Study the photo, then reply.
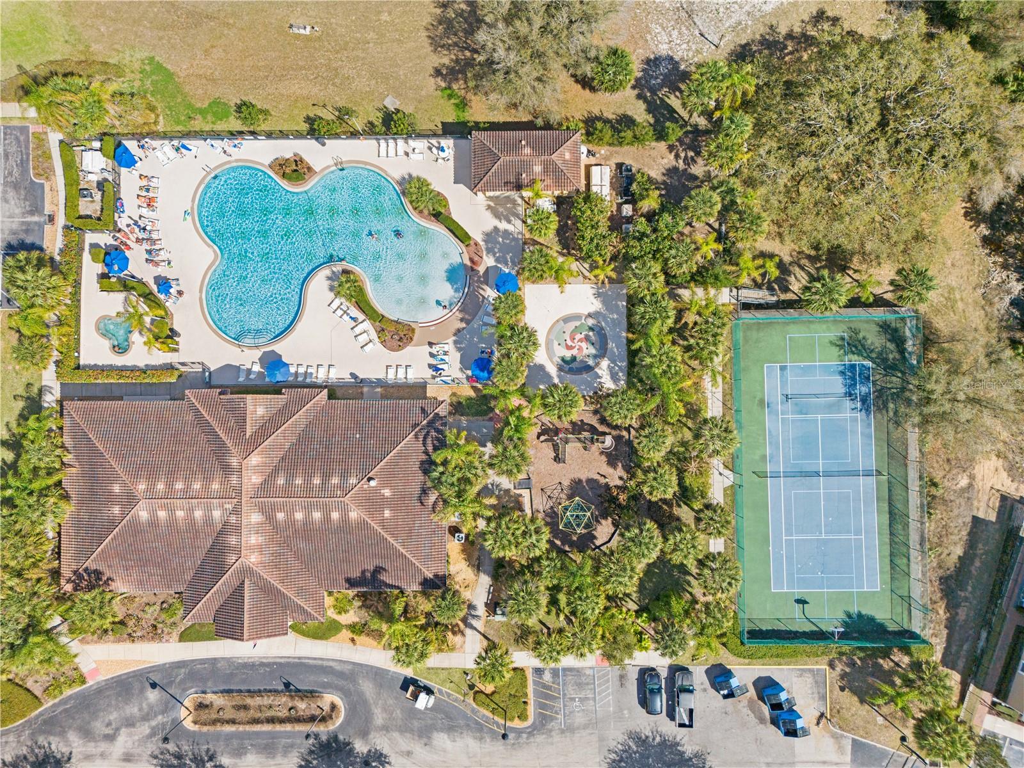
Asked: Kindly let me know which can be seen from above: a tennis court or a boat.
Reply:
tennis court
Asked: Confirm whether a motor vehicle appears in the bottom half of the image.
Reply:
Yes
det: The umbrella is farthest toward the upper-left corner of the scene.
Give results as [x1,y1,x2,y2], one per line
[113,143,141,170]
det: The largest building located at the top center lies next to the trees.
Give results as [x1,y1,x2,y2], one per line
[471,130,584,194]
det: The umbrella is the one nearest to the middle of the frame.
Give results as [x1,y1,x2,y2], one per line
[470,356,494,381]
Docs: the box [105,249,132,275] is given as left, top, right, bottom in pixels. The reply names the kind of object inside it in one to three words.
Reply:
umbrella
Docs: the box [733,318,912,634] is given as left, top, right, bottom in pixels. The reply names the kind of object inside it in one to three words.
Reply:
tennis court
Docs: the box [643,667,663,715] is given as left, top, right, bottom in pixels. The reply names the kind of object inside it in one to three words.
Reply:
car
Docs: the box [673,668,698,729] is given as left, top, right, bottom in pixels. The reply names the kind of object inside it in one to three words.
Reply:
truck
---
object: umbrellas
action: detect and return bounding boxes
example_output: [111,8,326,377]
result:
[113,143,141,170]
[105,249,132,275]
[470,356,494,381]
[159,279,179,295]
[495,271,518,294]
[265,358,291,383]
